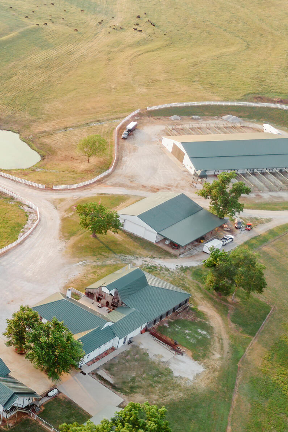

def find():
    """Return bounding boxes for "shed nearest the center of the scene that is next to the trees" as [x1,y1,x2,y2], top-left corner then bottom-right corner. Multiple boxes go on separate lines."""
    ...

[116,191,227,258]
